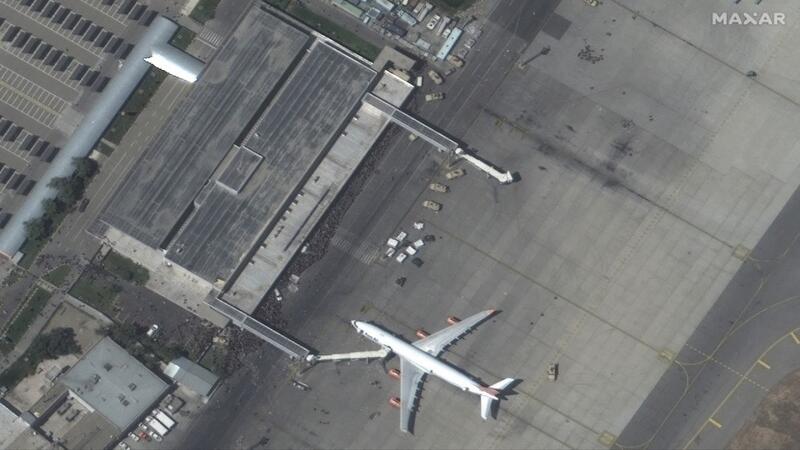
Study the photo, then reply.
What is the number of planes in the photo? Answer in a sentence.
My tally gives 1 plane in this photo.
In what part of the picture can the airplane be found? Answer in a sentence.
The airplane is located in the bottom region of the scene.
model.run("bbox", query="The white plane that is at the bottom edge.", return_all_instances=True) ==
[352,308,513,437]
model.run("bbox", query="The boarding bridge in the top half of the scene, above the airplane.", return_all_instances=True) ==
[447,147,515,185]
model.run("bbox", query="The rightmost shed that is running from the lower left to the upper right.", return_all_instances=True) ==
[436,27,463,62]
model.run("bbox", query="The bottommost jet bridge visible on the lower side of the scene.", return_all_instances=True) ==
[301,345,395,376]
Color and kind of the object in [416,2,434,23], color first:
gray vehicle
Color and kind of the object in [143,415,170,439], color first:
white truck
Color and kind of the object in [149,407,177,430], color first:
white truck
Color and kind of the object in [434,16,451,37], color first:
gray vehicle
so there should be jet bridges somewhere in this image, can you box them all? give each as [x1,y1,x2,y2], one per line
[447,147,515,185]
[301,345,395,376]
